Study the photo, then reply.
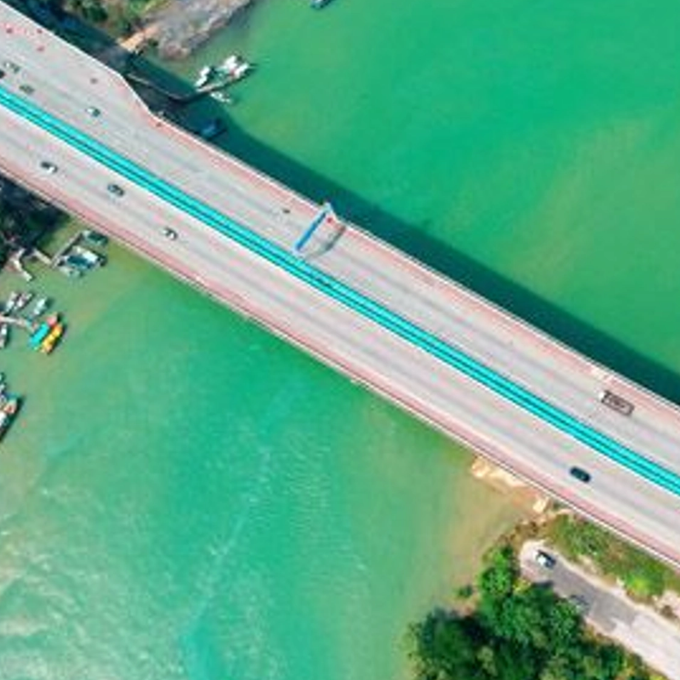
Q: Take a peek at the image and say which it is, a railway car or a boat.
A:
boat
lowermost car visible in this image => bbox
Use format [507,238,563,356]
[534,550,554,567]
